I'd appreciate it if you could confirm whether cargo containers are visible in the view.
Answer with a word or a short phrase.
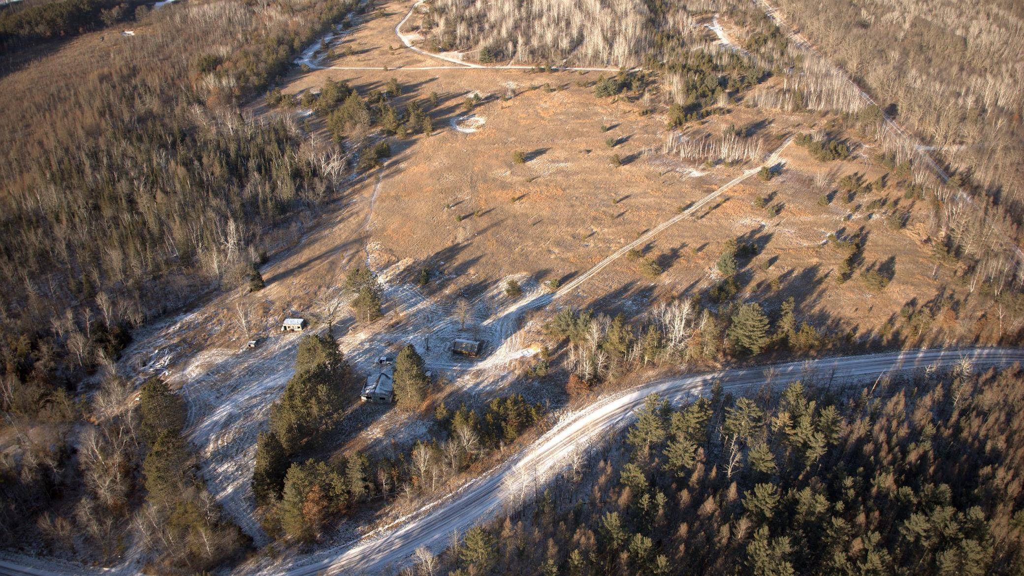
No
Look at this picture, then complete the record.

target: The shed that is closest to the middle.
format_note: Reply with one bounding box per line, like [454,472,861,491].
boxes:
[451,338,480,357]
